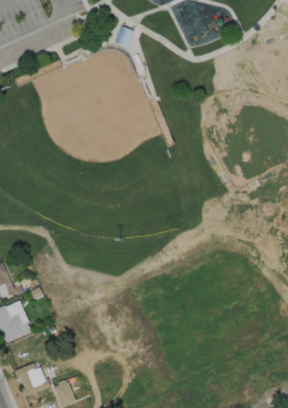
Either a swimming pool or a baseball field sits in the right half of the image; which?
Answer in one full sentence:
There is a baseball field in the right half of the image.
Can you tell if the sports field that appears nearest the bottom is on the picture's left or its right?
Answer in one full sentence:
You can find the sports field that appears nearest the bottom on the right side of the picture.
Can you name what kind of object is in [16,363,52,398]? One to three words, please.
house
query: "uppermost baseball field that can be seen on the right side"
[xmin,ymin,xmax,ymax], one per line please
[222,106,288,188]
